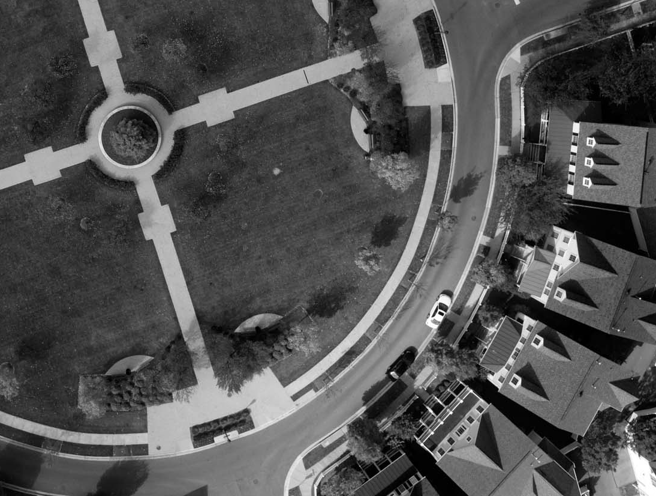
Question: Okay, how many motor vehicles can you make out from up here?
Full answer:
The count of motor vehicles comes to 2.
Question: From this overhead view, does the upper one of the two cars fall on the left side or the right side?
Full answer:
It is on the right.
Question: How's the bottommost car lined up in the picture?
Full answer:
What the image shows is the bottommost car lying at an angle.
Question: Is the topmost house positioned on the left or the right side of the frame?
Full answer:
You can find the topmost house on the right side of the picture.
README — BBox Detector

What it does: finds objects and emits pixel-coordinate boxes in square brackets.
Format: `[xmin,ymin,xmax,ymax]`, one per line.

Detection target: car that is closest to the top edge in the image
[425,291,455,331]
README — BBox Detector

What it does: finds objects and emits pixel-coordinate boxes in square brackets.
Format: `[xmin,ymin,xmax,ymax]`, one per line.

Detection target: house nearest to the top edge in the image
[520,108,656,208]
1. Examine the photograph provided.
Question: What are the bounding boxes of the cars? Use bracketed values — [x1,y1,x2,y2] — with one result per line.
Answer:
[425,291,455,331]
[385,343,417,382]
